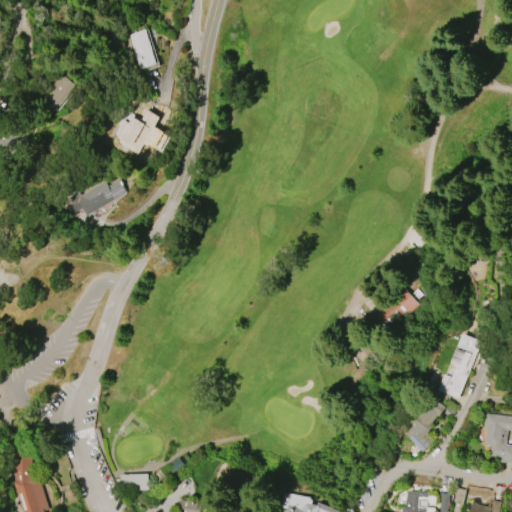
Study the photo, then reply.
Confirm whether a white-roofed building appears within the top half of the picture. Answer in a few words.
Yes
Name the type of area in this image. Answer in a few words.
golf course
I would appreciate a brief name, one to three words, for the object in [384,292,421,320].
house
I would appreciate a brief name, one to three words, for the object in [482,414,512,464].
house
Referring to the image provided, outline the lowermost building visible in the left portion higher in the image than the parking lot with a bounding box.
[71,179,126,216]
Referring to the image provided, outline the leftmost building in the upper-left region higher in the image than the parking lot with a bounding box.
[52,76,74,110]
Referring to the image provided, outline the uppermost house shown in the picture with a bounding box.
[130,28,160,70]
